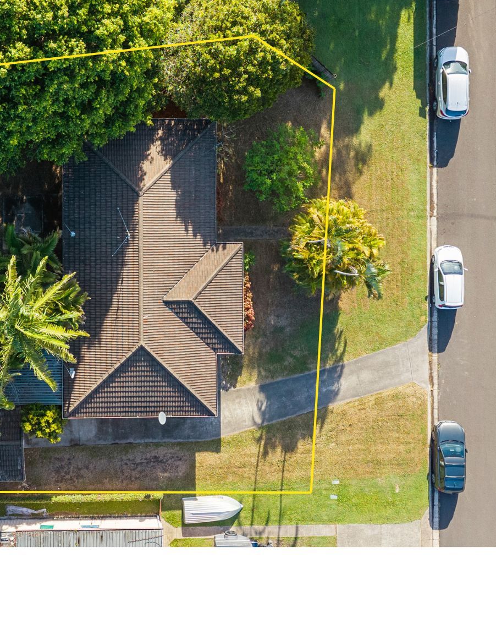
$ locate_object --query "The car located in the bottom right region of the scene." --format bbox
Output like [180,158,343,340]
[428,419,469,494]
